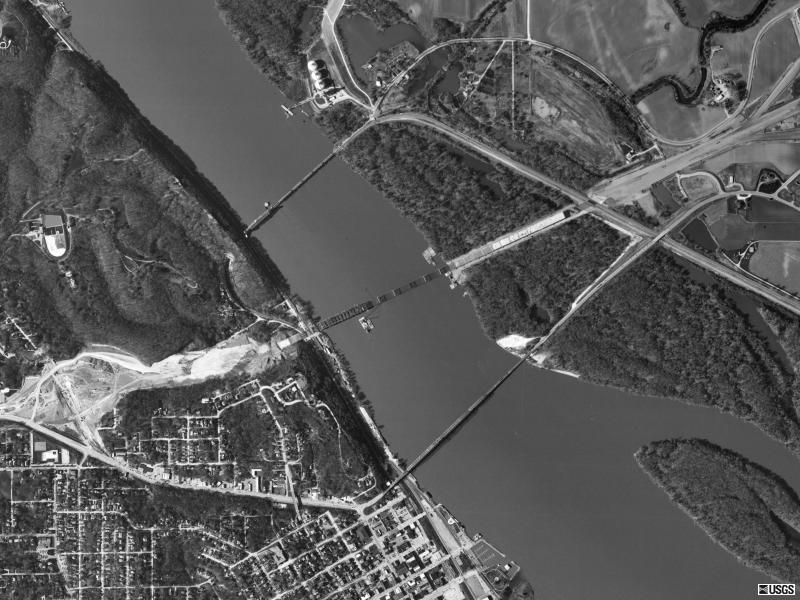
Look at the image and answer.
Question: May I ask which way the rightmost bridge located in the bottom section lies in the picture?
at an angle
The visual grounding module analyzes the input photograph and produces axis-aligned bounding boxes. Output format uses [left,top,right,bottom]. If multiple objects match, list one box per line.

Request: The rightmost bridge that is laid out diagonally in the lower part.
[392,346,545,484]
